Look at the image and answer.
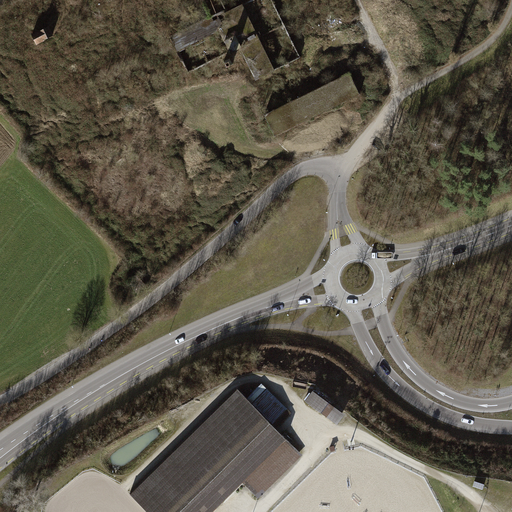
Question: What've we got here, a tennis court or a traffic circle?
traffic circle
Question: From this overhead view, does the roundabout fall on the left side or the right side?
right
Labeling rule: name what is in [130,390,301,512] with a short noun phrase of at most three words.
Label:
barn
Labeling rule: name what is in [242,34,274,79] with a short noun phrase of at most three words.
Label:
building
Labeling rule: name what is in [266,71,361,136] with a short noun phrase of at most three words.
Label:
building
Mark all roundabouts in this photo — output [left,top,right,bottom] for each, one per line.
[310,228,411,324]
